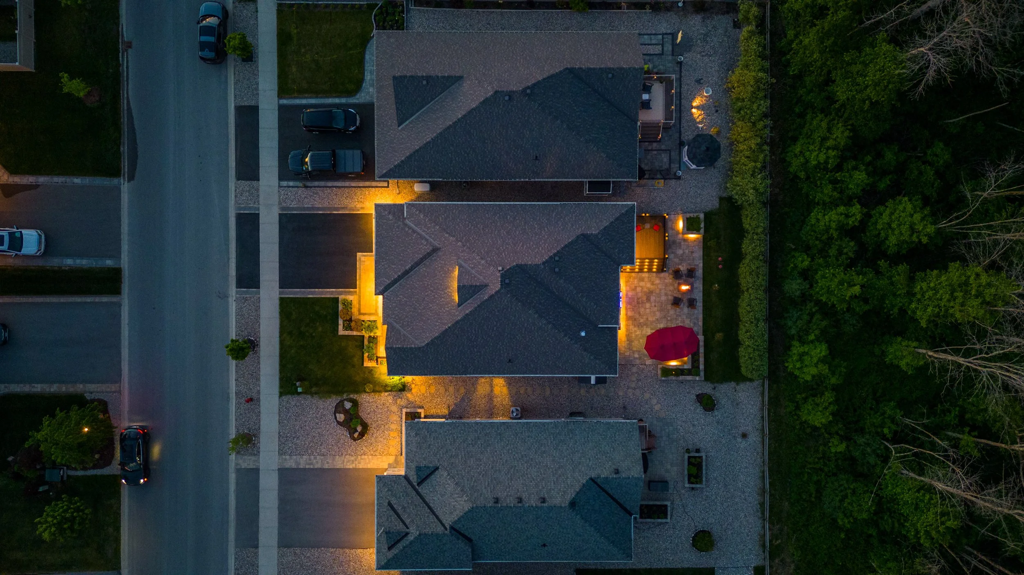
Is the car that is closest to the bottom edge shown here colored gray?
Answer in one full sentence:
No, the car that is closest to the bottom edge is black.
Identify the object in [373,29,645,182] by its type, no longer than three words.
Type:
house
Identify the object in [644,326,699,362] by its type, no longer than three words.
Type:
umbrella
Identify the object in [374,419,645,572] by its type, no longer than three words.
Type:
house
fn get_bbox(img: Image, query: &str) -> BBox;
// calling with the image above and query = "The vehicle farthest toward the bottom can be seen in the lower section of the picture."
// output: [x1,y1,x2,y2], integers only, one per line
[117,426,150,487]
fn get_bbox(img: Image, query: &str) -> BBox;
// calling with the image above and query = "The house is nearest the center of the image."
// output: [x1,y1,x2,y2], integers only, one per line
[373,202,637,384]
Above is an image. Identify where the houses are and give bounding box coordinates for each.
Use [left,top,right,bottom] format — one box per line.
[0,0,34,73]
[373,202,637,384]
[373,29,645,182]
[374,419,645,572]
